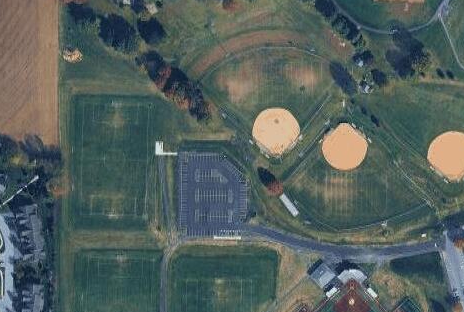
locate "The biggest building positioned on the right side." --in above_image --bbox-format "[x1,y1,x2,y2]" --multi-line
[312,263,337,289]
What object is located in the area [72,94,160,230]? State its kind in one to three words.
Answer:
soccer field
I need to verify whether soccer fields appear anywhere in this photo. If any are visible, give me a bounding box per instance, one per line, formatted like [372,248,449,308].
[170,252,278,312]
[72,94,160,230]
[74,250,163,312]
